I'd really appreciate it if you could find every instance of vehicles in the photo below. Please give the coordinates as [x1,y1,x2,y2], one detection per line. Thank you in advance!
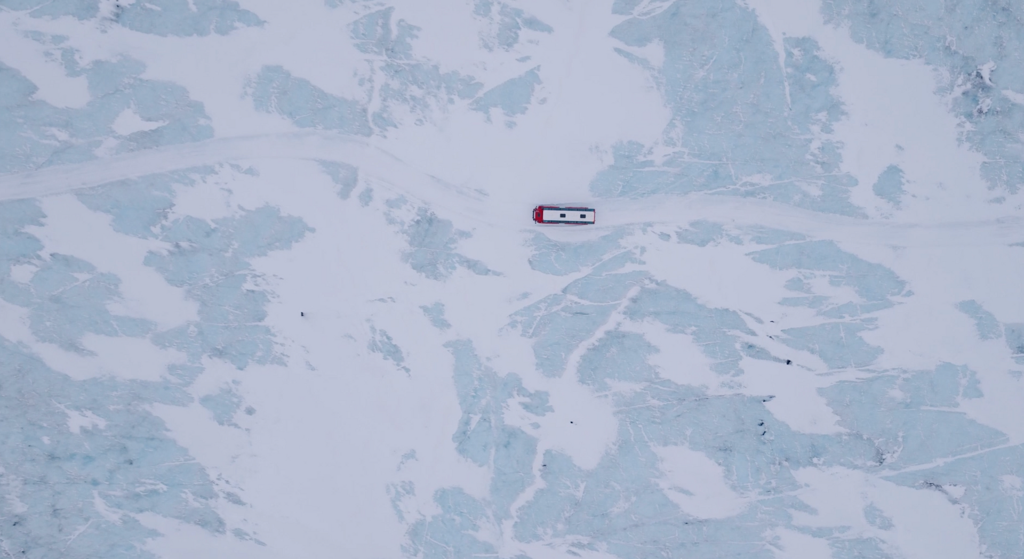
[533,206,596,225]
